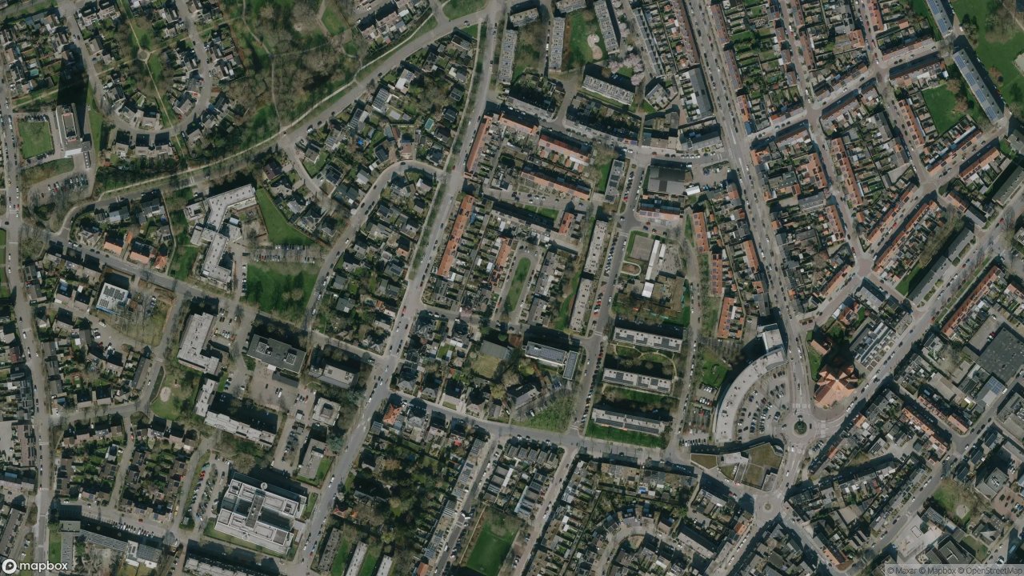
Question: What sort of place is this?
residential area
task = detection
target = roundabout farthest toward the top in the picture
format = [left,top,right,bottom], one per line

[784,416,815,446]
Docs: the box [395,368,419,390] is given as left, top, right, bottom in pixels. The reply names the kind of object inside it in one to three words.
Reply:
house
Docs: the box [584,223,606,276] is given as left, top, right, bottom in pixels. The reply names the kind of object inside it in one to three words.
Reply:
building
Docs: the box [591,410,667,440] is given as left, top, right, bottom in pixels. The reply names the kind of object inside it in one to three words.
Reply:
building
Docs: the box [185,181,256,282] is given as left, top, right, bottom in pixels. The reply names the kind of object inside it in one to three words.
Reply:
house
